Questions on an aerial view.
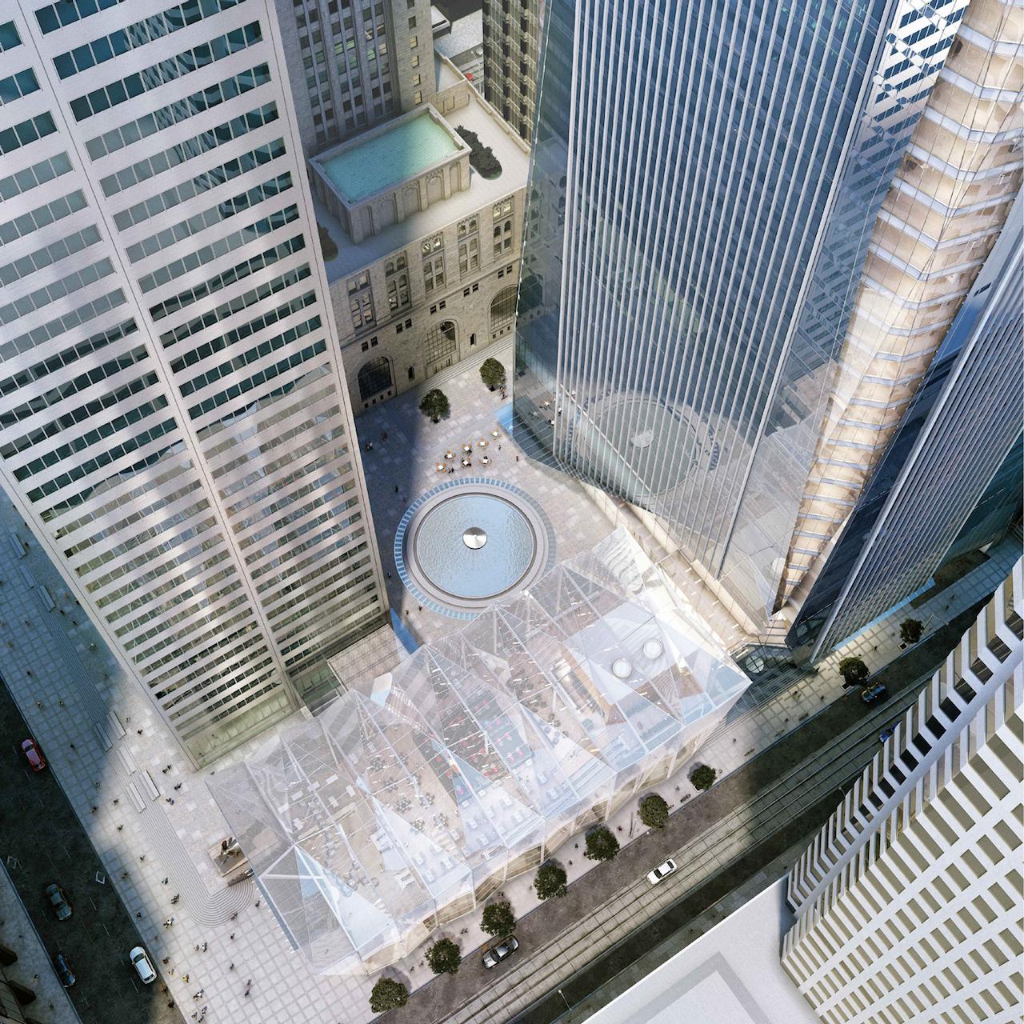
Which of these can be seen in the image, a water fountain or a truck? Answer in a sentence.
Looking from above, you can make out a water fountain.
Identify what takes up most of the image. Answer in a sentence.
The bulk of the photo consists of buildings.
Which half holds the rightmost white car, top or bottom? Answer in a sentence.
The rightmost white car is in the bottom half of the image.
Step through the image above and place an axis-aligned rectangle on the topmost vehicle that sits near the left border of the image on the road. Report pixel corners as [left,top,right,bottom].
[20,740,49,777]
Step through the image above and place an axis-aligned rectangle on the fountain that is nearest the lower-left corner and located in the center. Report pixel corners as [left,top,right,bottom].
[394,477,557,621]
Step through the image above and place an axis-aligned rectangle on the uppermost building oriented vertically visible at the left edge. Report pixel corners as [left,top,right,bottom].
[0,0,396,772]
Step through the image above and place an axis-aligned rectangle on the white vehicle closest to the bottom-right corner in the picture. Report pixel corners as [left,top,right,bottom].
[645,858,681,889]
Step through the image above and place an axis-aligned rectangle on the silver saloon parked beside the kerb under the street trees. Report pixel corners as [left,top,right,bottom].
[480,934,522,970]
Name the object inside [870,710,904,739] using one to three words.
car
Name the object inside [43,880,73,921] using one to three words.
car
